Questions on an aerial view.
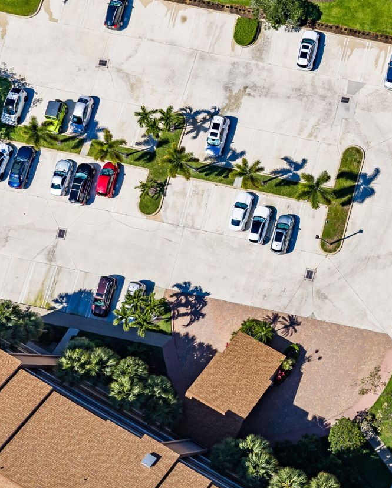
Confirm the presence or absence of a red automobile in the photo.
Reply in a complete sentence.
Yes, the picture does show a red automobile.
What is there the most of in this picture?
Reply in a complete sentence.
The scene is dominated by paved ground.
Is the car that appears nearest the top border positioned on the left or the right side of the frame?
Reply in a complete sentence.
The car that appears nearest the top border appears in the left half of the scene.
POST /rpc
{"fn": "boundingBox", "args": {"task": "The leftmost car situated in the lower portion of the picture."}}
[91,276,118,317]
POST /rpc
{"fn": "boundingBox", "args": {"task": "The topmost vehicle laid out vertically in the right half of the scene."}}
[296,30,319,71]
